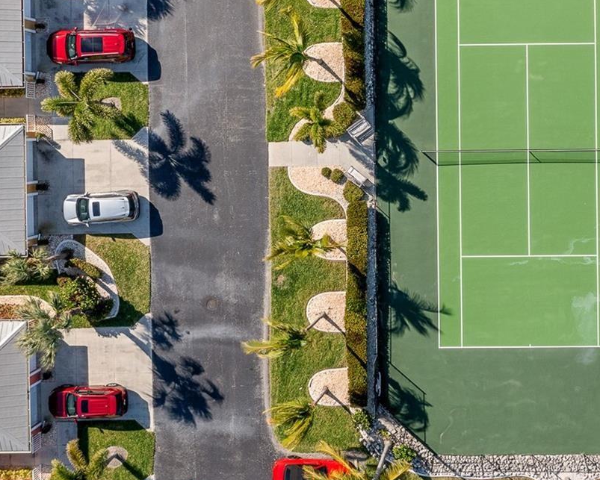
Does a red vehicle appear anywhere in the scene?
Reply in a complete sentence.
Yes, you can see a red vehicle in this photo.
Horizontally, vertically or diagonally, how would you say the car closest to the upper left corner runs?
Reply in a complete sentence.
From this overhead view, the car closest to the upper left corner appears to run horizontally.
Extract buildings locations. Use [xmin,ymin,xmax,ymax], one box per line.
[0,0,34,89]
[0,321,41,453]
[0,126,37,258]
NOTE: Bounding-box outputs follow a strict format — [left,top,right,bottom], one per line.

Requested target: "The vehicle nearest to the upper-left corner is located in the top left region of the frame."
[49,26,135,65]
